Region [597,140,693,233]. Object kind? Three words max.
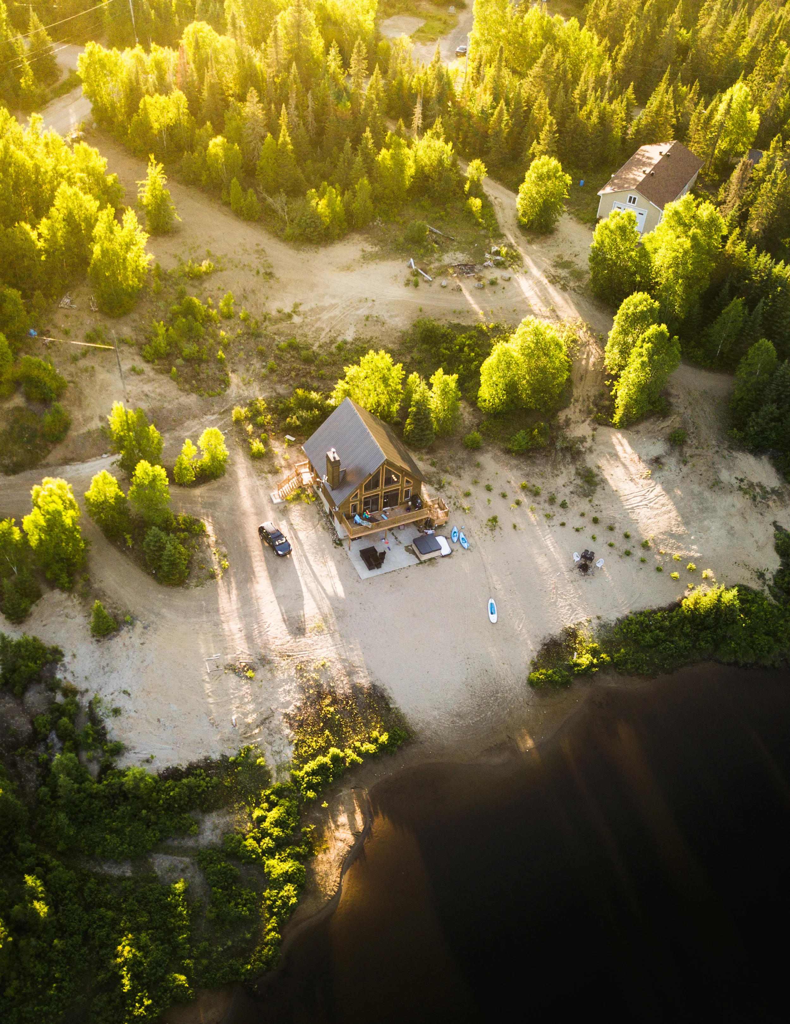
building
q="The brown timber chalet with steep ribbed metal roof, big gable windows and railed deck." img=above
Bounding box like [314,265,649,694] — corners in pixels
[277,396,449,552]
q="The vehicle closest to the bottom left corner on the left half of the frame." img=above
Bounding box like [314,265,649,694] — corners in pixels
[257,518,293,554]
